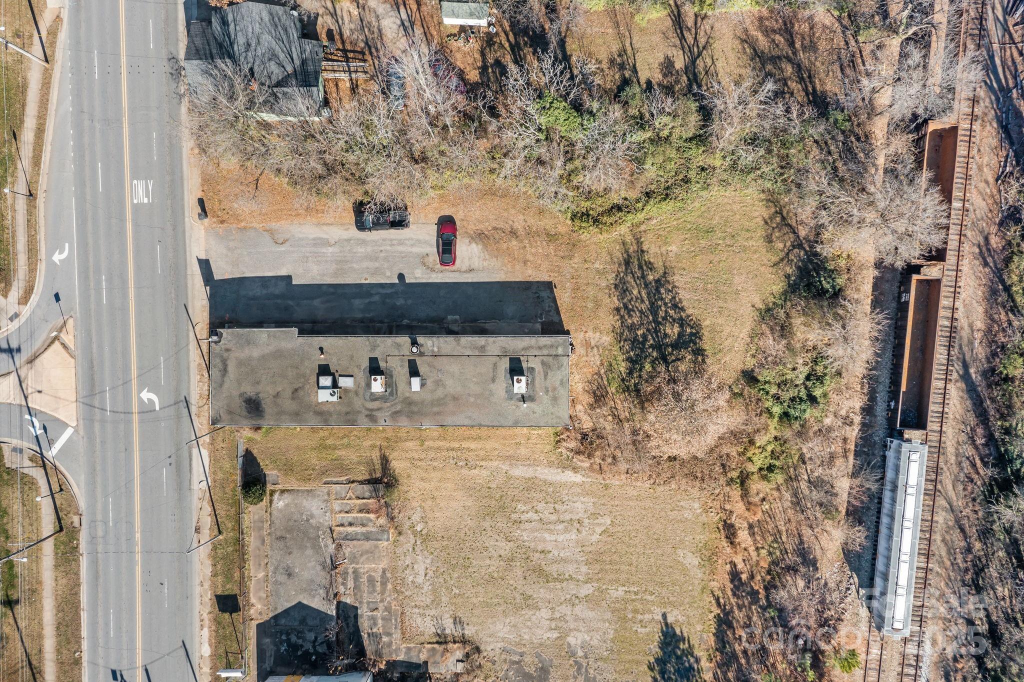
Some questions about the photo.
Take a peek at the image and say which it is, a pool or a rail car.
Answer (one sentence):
Visible in the photo is a rail car.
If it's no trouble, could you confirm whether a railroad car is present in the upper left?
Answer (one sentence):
No, no railroad car can be made out in the upper left.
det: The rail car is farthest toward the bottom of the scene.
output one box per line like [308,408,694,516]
[866,428,929,639]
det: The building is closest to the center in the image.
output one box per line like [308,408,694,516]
[211,328,573,431]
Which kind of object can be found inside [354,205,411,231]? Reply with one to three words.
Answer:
truck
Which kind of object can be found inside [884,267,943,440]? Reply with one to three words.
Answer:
rail car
